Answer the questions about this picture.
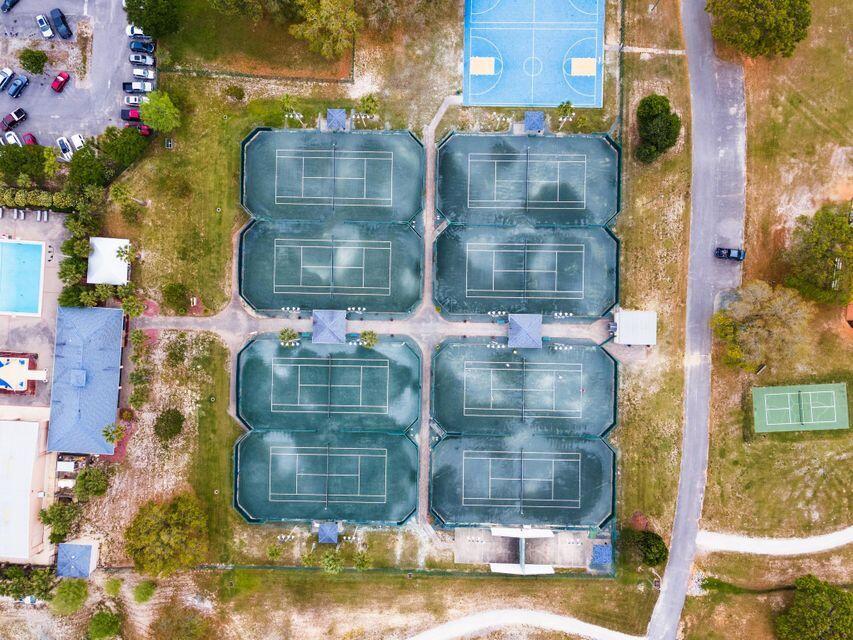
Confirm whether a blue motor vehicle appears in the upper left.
Yes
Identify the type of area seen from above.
sports ground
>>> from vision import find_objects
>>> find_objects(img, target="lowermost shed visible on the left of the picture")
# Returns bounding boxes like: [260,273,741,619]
[56,541,97,578]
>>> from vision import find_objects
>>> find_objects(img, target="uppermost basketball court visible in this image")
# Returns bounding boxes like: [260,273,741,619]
[464,0,606,26]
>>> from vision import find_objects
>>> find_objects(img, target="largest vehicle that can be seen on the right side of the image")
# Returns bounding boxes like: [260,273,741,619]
[712,248,745,260]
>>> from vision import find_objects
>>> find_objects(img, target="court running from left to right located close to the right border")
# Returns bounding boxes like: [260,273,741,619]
[752,383,848,433]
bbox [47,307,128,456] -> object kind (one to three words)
building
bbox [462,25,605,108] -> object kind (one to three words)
basketball court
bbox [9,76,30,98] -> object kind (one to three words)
car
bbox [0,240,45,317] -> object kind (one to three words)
swimming pool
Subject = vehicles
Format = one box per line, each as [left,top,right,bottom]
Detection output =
[122,109,151,122]
[127,27,150,38]
[4,129,25,152]
[0,68,17,92]
[712,248,745,260]
[130,42,156,53]
[57,137,75,162]
[50,8,73,39]
[132,68,156,81]
[122,0,132,9]
[9,76,30,98]
[36,15,56,39]
[606,323,614,330]
[22,130,41,148]
[123,81,154,93]
[69,132,87,153]
[127,122,151,132]
[0,0,22,14]
[52,72,71,93]
[130,54,156,67]
[126,95,150,106]
[0,107,28,132]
